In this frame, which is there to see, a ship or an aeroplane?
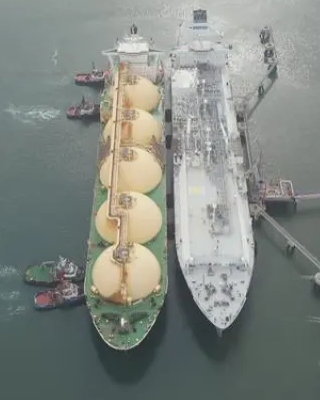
ship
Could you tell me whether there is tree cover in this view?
No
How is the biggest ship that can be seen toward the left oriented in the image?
from top to bottom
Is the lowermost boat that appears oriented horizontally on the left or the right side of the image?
left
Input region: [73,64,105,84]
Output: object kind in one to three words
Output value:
boat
